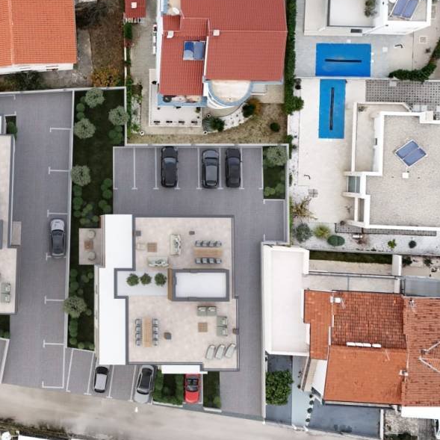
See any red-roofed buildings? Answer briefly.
Yes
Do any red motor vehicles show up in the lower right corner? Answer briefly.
No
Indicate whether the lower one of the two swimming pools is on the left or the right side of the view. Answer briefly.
right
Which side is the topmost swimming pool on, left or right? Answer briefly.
right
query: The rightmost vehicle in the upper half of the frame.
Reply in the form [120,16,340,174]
[224,148,243,188]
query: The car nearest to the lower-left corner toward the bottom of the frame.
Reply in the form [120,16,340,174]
[93,365,111,394]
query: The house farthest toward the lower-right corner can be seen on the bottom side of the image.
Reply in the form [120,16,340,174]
[260,246,440,418]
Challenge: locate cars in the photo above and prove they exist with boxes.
[433,418,440,440]
[183,373,202,405]
[48,217,67,258]
[133,364,154,404]
[201,148,221,188]
[161,147,181,188]
[224,148,243,188]
[93,365,111,394]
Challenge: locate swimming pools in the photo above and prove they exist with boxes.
[312,40,373,78]
[315,76,348,141]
